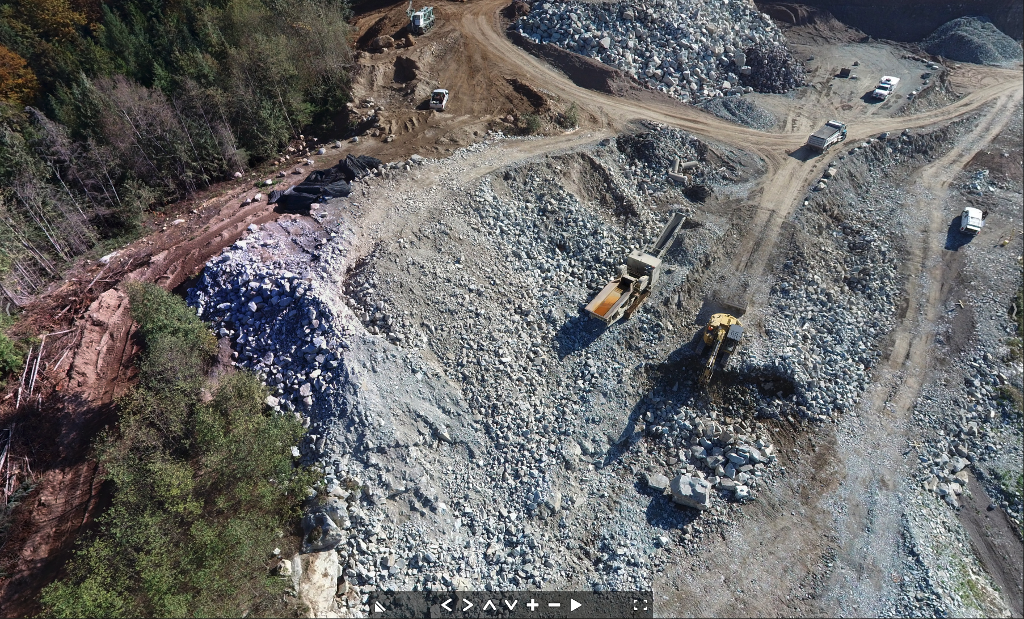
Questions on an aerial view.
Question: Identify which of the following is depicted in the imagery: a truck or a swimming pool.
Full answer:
Of the two, only a truck appears.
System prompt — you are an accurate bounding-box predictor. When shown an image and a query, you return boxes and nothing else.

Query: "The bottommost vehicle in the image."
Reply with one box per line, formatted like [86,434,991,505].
[695,309,745,382]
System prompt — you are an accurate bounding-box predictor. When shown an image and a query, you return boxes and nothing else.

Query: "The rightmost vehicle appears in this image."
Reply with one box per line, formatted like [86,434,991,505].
[957,202,992,233]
